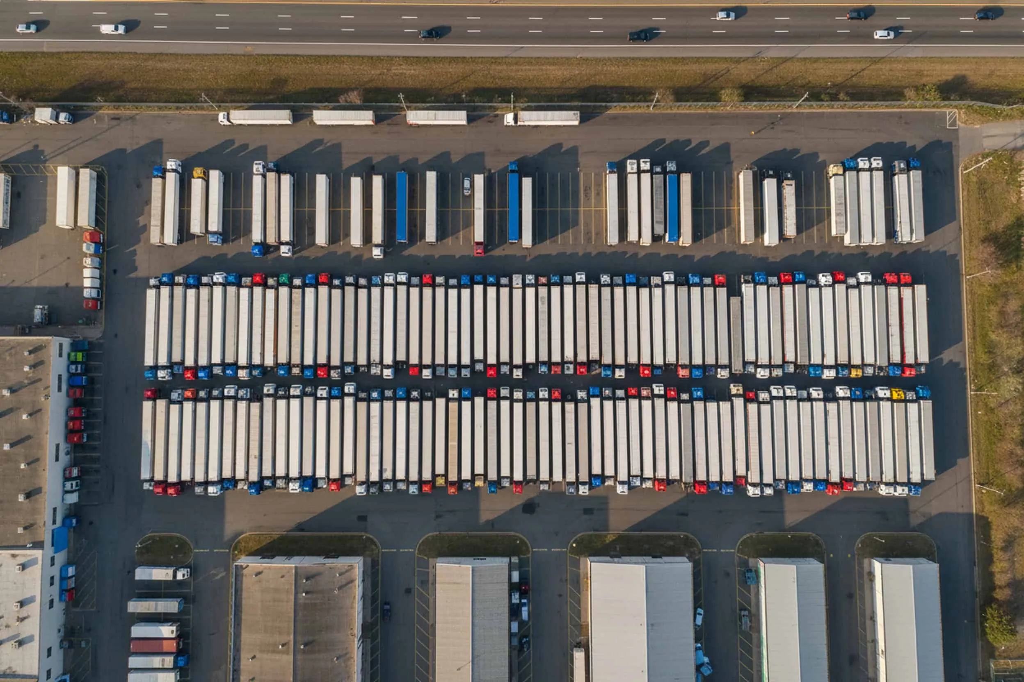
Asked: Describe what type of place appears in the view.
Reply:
parking lot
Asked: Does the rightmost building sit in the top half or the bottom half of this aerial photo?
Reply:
bottom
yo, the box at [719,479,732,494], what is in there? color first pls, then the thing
blue vehicle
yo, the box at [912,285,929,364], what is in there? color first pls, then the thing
white trailer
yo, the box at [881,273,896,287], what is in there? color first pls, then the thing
red vehicle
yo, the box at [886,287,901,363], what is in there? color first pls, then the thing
white trailer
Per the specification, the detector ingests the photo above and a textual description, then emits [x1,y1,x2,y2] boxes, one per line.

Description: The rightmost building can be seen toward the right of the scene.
[872,561,944,682]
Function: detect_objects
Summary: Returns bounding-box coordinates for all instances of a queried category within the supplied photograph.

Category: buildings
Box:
[0,336,75,682]
[230,555,365,682]
[872,561,944,682]
[434,559,509,682]
[756,559,828,682]
[588,555,694,682]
